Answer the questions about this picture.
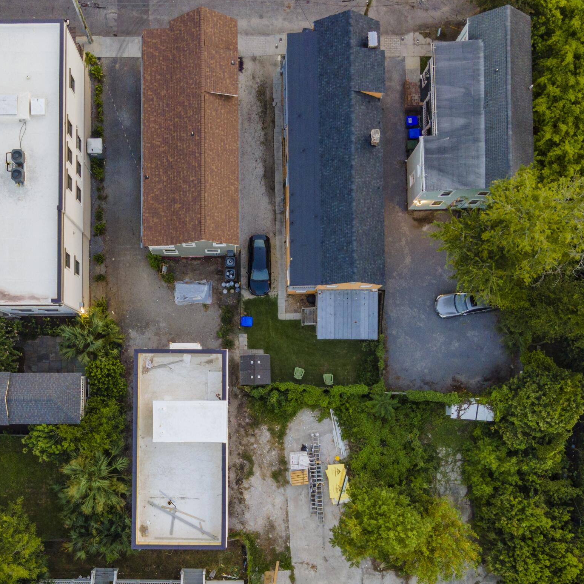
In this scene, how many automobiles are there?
2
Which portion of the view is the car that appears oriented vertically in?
center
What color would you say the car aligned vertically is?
black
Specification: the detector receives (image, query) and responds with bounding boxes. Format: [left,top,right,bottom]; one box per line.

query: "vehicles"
[246,233,274,296]
[434,288,501,320]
